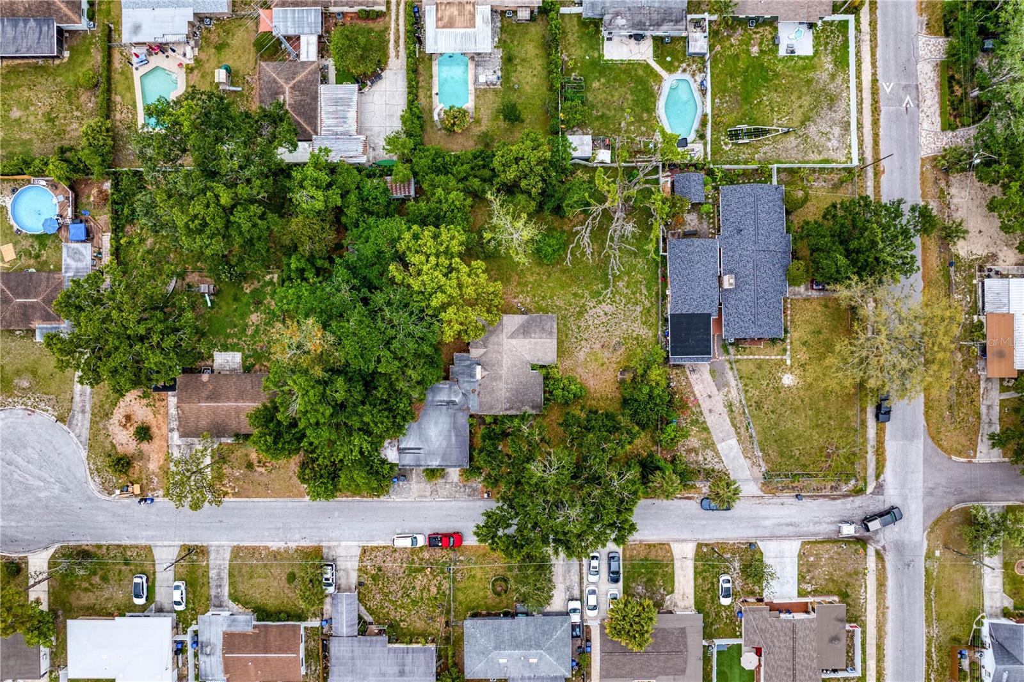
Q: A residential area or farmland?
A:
residential area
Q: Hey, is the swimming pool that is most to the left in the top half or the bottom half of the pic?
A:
top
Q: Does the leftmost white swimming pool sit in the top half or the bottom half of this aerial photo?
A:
top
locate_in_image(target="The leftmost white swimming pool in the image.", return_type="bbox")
[132,45,193,132]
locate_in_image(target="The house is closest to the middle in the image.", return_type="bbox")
[450,304,556,413]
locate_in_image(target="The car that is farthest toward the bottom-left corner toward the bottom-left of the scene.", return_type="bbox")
[131,573,149,604]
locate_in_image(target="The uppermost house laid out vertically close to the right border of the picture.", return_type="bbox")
[975,266,1024,378]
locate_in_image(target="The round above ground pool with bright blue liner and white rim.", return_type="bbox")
[8,184,58,234]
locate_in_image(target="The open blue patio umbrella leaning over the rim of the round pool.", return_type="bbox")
[42,217,61,234]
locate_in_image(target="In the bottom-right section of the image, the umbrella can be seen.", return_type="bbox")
[741,653,758,670]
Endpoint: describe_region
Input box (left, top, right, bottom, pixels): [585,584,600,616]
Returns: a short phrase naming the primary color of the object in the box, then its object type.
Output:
white car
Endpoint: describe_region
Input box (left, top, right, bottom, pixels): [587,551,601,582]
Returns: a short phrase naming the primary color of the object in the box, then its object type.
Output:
white car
